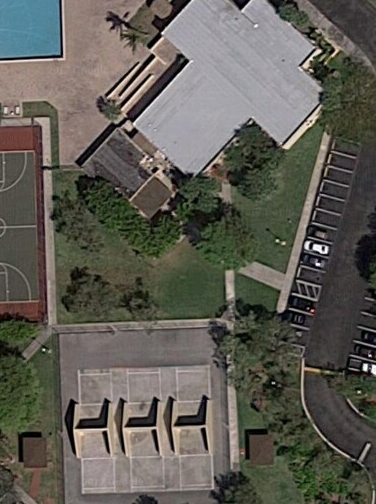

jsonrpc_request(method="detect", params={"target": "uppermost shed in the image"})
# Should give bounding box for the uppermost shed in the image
[151,0,173,18]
